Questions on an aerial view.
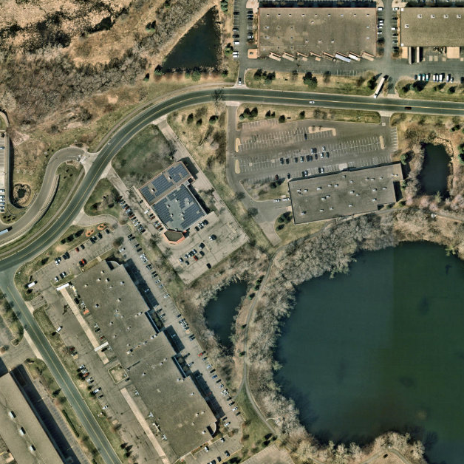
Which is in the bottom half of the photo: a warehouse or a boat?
warehouse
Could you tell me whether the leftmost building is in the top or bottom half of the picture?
bottom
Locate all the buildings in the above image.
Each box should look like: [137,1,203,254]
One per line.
[137,162,205,245]
[55,261,216,457]
[289,164,403,224]
[401,7,464,46]
[0,373,65,464]
[259,7,376,58]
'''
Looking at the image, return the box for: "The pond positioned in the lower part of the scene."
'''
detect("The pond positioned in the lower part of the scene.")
[205,280,247,351]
